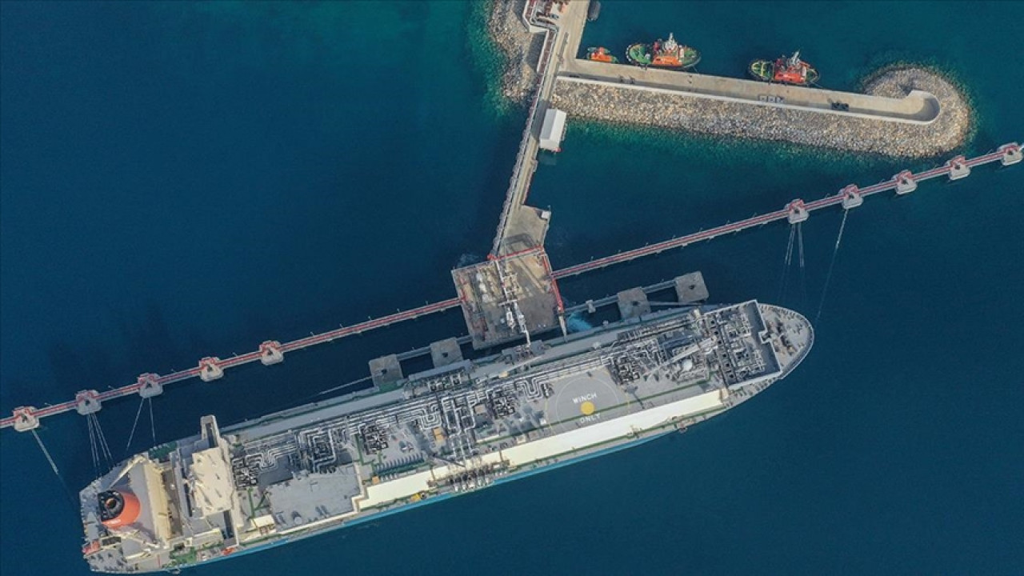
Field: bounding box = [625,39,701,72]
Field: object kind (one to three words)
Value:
boat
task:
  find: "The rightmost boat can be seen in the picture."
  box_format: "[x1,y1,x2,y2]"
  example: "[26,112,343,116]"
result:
[748,55,821,87]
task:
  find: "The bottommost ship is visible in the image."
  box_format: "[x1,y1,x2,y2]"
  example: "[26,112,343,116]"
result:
[77,301,816,574]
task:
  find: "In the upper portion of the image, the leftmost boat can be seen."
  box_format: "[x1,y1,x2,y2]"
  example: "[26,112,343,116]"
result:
[587,47,618,62]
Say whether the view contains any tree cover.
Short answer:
No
